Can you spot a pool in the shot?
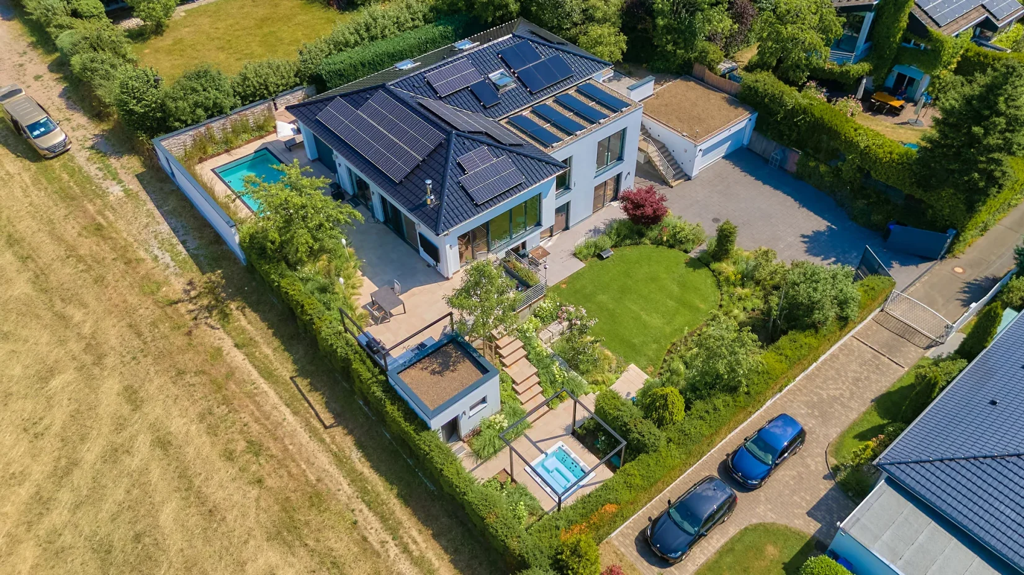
Yes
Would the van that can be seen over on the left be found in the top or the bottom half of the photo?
top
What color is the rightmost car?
blue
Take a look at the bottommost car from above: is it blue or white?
blue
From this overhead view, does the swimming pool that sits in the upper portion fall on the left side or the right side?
left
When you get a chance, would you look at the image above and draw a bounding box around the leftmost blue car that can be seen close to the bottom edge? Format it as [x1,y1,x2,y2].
[642,474,741,566]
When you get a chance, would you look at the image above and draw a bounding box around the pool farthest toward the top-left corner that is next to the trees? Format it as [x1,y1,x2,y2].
[208,145,312,217]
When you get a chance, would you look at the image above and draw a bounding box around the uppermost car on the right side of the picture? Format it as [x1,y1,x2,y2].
[718,413,810,494]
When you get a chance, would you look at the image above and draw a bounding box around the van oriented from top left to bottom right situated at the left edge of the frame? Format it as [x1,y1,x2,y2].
[0,95,71,164]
